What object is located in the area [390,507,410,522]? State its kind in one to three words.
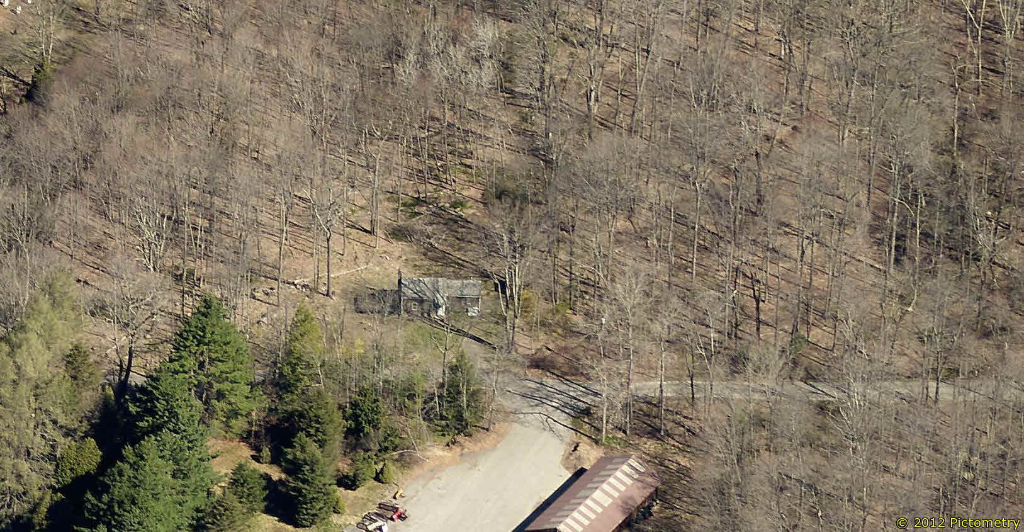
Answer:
work vehicle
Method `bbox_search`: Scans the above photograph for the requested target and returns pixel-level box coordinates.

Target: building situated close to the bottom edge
[526,452,662,532]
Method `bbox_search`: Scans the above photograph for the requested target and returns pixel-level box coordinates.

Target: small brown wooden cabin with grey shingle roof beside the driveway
[395,273,483,322]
